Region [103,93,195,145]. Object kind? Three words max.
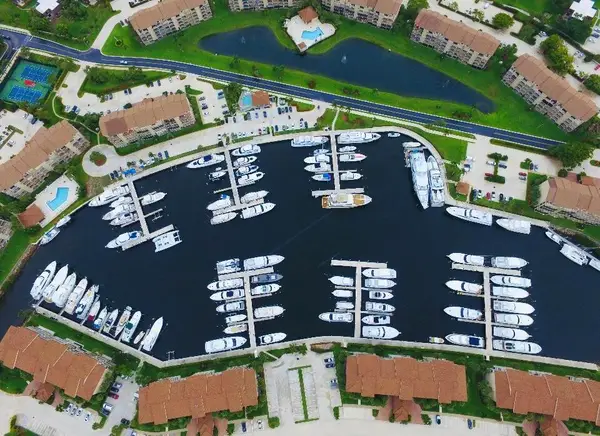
building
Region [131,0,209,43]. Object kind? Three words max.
building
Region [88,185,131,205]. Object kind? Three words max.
boat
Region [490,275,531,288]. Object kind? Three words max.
boat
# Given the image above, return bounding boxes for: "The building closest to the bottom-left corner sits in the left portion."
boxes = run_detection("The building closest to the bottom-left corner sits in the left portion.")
[0,324,115,403]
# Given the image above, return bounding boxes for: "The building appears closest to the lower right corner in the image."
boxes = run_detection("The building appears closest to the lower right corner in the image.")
[486,365,600,436]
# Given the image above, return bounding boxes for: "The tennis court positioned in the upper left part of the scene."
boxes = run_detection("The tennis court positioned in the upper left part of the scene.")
[0,56,58,104]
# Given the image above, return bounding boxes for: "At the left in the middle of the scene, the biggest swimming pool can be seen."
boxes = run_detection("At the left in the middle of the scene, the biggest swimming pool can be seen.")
[36,177,79,229]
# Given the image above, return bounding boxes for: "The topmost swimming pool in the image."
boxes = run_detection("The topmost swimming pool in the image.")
[287,14,335,52]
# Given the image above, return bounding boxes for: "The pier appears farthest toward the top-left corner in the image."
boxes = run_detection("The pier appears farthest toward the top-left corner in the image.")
[120,180,175,251]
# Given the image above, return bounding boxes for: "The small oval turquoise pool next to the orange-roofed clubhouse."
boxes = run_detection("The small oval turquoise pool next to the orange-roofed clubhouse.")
[238,91,255,110]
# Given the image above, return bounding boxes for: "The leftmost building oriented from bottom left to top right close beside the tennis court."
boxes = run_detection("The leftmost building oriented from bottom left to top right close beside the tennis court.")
[0,117,86,196]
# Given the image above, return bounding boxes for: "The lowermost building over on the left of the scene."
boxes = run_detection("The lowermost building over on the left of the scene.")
[137,366,259,436]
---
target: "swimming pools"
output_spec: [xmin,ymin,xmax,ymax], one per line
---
[36,177,79,229]
[238,91,255,110]
[287,14,335,52]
